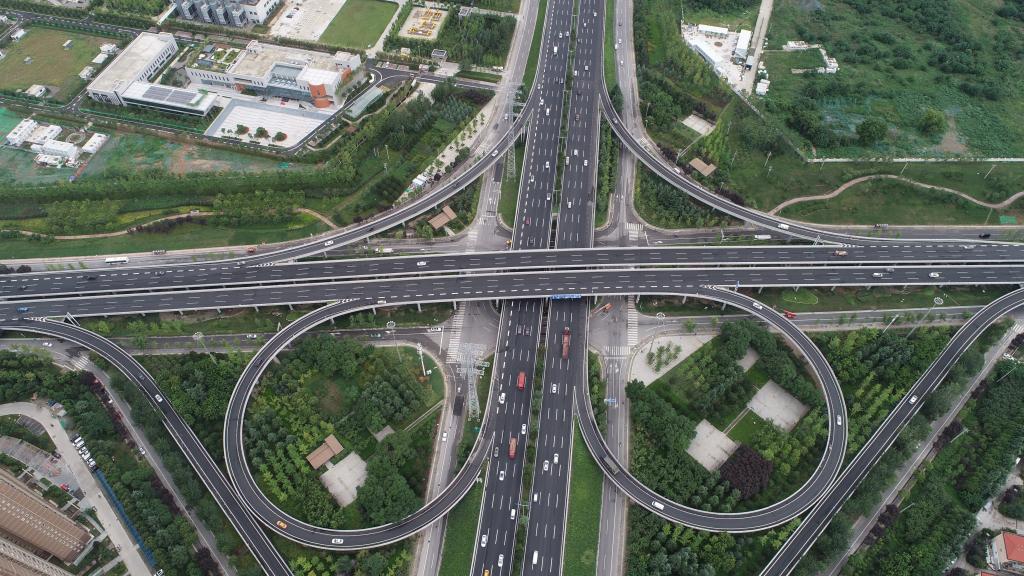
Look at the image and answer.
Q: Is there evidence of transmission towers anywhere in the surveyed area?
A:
Yes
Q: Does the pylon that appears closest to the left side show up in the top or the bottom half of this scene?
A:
bottom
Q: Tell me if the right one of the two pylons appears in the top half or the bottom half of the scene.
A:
top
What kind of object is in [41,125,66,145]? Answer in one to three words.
building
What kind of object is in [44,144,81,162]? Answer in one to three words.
building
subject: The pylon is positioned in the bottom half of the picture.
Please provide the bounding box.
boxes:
[451,335,485,420]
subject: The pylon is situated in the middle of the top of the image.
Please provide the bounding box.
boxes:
[499,82,524,181]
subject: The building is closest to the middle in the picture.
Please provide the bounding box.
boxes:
[429,206,454,233]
